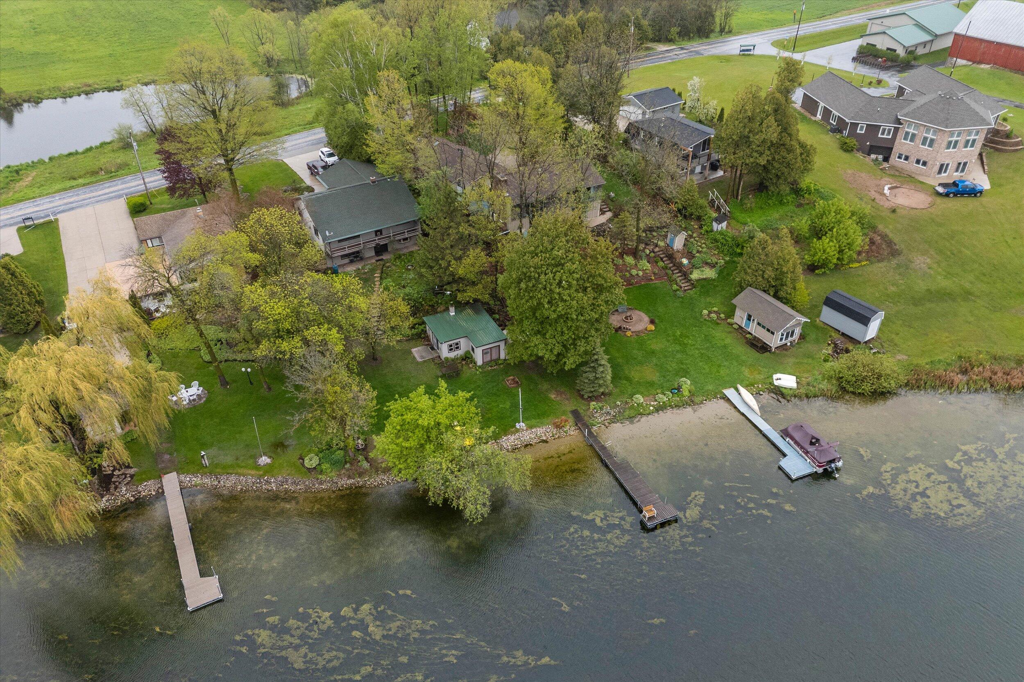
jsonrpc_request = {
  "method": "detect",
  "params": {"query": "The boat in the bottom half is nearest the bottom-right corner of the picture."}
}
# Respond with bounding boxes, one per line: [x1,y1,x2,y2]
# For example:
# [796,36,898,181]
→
[780,423,840,479]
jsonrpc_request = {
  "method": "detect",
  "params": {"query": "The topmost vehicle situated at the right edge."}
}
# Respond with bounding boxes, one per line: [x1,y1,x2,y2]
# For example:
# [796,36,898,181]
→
[936,179,989,197]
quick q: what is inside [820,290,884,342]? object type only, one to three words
shed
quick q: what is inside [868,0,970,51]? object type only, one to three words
building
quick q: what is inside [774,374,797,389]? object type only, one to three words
boat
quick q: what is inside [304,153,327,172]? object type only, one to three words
vehicle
